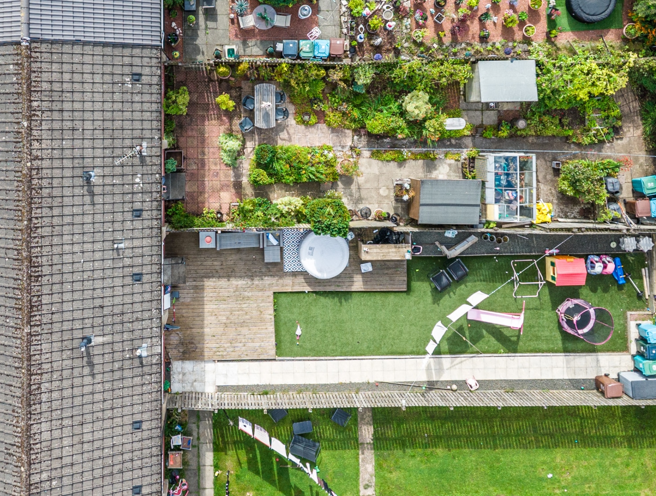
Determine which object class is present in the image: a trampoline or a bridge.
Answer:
trampoline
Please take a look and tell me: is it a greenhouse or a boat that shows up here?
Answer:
greenhouse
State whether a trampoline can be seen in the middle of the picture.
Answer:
No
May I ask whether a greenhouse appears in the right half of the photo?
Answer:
Yes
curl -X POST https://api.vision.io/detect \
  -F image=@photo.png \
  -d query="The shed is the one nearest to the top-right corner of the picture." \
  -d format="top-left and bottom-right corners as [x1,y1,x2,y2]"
[465,60,539,103]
